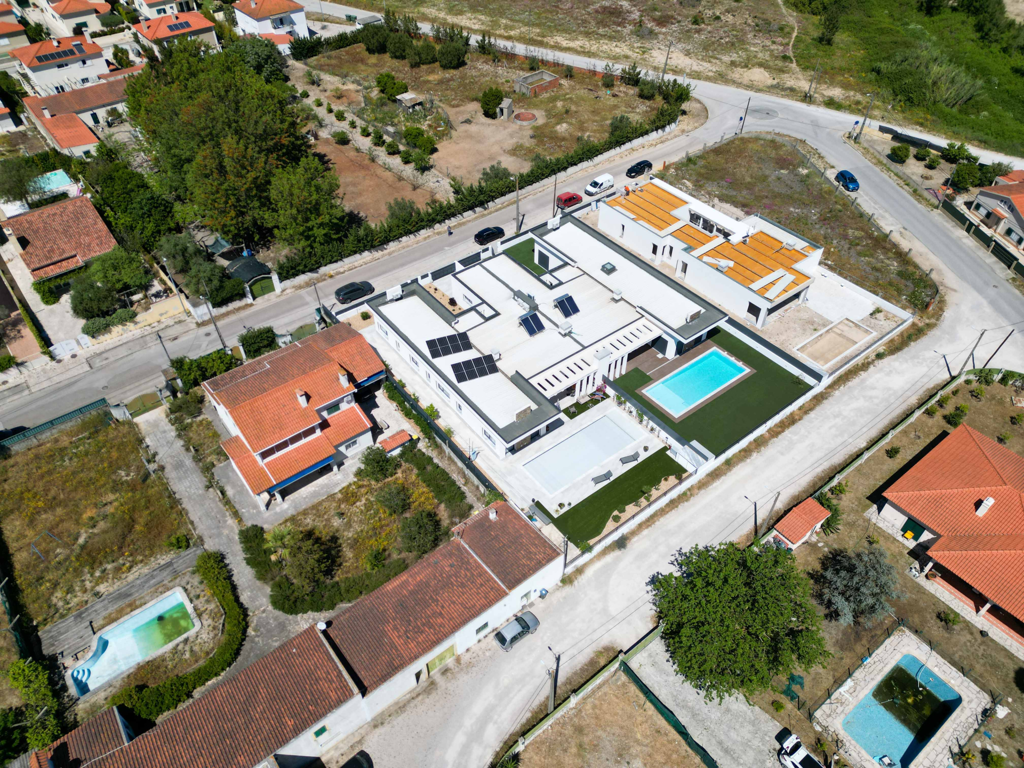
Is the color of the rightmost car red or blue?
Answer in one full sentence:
The color of the rightmost car is blue.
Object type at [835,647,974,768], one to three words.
swimming pool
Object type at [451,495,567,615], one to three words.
barn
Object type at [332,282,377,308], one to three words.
car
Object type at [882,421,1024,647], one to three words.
house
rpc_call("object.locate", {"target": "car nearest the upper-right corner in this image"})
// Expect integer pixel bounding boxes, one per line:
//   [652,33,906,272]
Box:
[834,171,861,193]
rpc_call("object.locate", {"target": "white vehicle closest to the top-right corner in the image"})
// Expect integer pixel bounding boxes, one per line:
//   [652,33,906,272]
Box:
[585,171,615,196]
